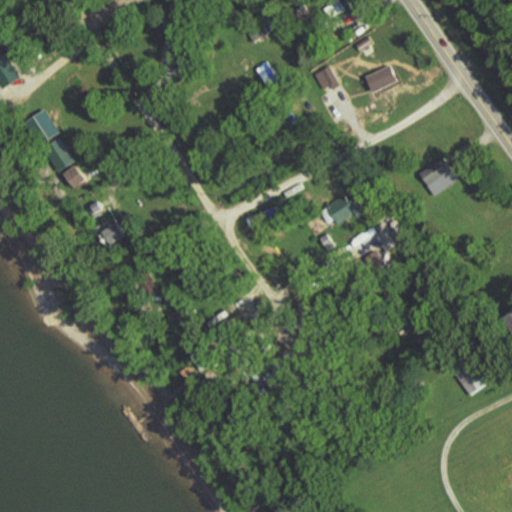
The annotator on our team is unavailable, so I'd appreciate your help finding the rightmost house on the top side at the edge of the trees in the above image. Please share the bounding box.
[417,158,457,196]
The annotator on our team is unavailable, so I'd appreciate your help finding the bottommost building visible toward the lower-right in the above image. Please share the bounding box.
[456,367,489,400]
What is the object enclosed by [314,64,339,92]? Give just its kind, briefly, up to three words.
barn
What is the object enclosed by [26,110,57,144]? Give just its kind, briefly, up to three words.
house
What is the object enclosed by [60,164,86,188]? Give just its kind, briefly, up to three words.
house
